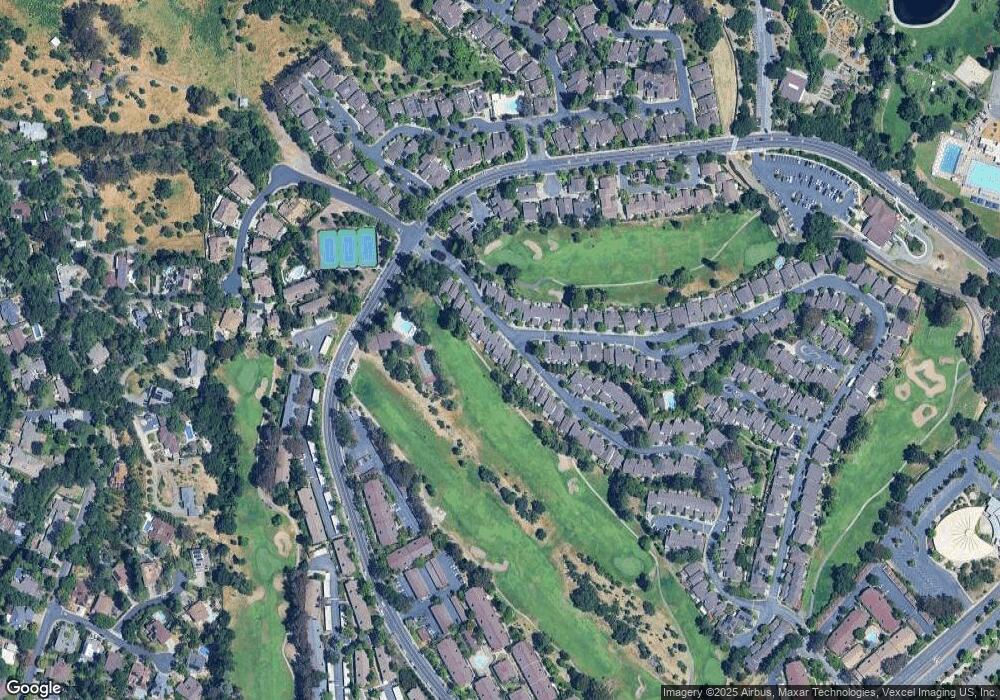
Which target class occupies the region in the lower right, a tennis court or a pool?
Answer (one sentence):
What appears in the lower right is a pool.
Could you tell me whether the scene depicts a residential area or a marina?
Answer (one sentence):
The picture captures a residential area.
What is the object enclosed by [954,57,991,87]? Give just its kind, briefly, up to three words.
sports court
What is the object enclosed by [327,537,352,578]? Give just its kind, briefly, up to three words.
building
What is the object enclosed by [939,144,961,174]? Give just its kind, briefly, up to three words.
swimming pool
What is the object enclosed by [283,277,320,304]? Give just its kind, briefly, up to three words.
house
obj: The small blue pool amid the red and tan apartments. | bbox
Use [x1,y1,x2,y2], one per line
[863,625,883,647]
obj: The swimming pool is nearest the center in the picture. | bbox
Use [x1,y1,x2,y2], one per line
[393,312,416,338]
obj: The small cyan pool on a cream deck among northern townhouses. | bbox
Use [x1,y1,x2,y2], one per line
[492,92,524,119]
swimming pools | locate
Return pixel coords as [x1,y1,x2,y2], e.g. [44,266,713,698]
[286,266,306,279]
[863,625,883,647]
[939,144,961,174]
[393,312,416,338]
[153,611,166,624]
[468,647,494,675]
[32,322,44,340]
[143,515,153,530]
[663,391,678,411]
[492,92,524,119]
[966,160,1000,192]
[184,419,196,442]
[774,256,785,269]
